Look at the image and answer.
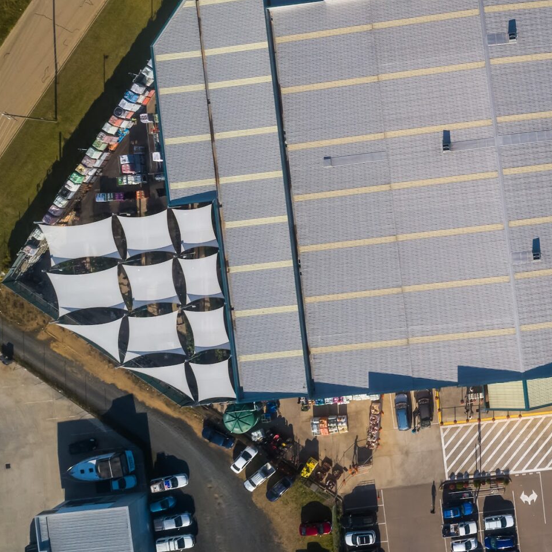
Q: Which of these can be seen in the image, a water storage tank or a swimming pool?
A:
water storage tank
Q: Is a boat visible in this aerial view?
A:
Yes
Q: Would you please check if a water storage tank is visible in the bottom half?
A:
Yes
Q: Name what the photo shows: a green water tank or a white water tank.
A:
green water tank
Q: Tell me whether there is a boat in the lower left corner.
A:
Yes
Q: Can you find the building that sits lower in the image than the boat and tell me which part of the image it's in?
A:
bottom left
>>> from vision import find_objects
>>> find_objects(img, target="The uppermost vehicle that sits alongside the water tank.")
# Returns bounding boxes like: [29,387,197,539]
[197,423,239,452]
